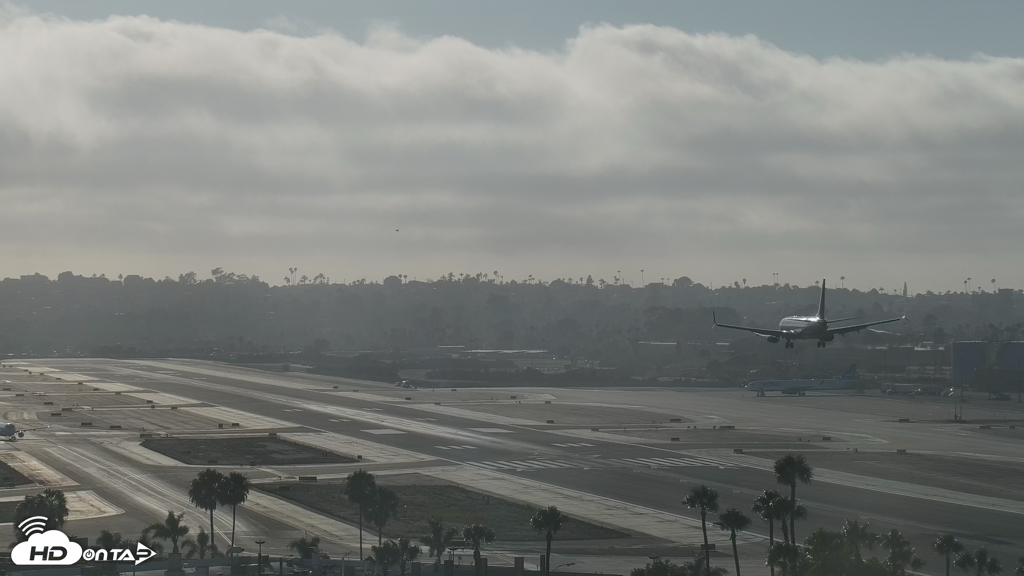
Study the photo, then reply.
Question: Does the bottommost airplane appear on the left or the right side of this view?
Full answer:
The bottommost airplane is on the left side of the image.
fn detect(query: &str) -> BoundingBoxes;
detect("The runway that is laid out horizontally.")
[33,358,1024,576]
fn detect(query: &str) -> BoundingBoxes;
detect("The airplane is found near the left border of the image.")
[0,418,44,440]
